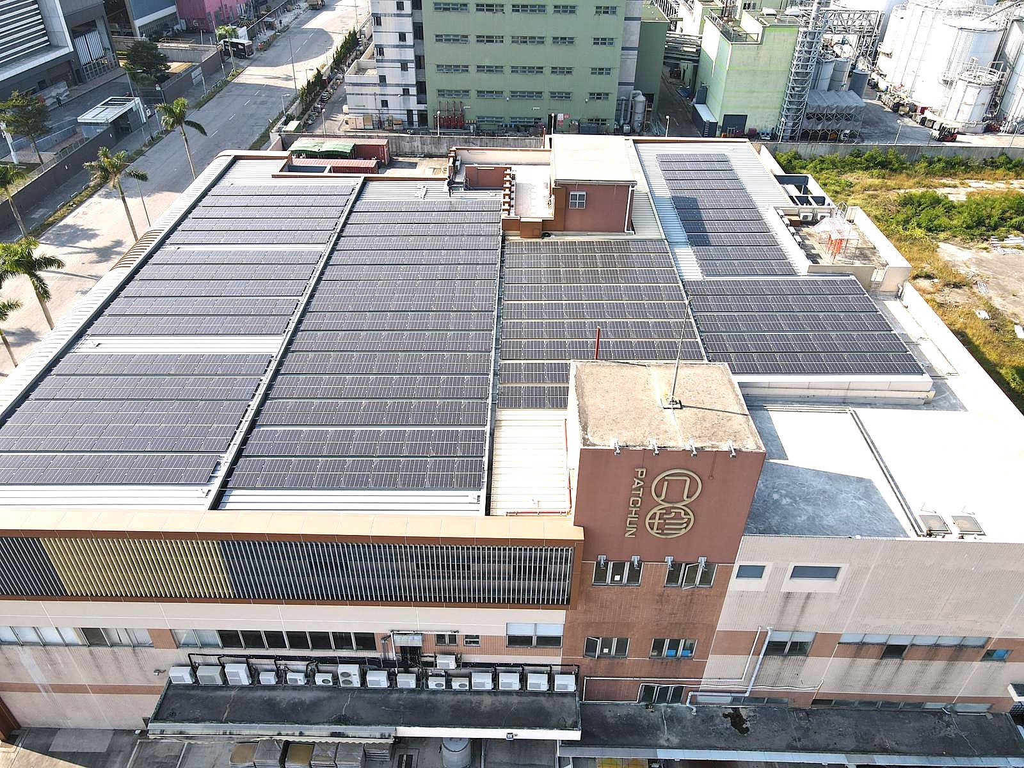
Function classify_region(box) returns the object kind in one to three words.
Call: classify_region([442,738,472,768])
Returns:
water tank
